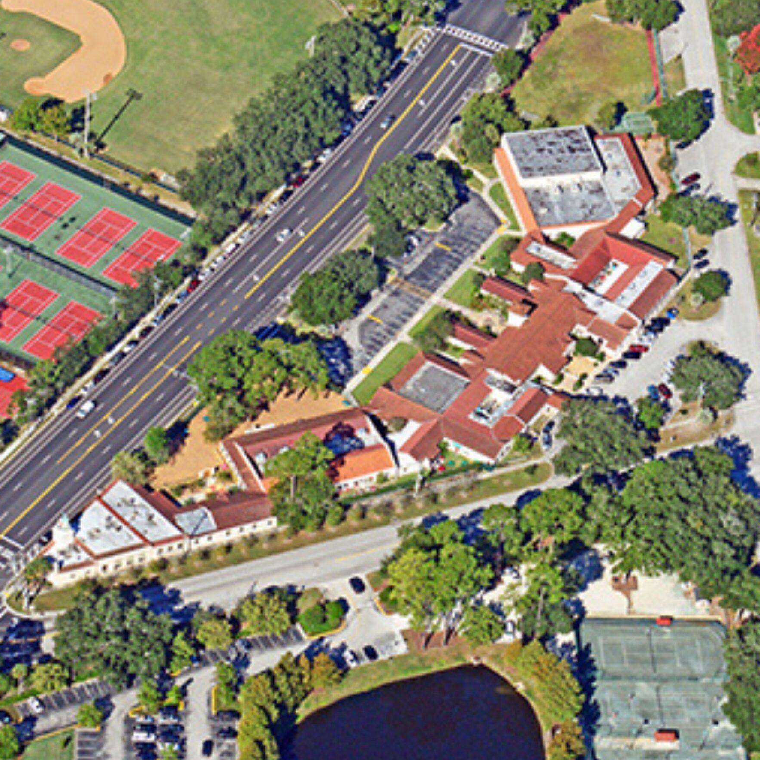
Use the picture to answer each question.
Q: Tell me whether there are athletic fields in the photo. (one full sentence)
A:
Yes, an athletic field is visible in the scene.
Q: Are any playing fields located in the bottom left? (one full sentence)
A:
No, the scene shows no playing field in the bottom left.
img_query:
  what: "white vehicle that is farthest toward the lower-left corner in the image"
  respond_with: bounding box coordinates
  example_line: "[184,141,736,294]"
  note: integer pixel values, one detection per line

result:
[29,695,43,712]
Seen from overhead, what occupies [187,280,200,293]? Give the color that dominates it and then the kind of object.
red vehicle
